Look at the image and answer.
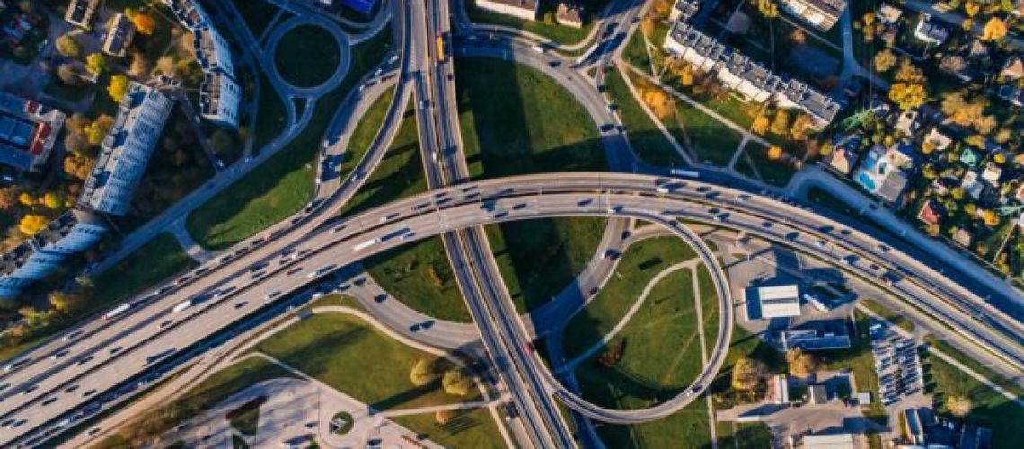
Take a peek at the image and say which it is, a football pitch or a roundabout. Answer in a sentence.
This aerial view contains a roundabout.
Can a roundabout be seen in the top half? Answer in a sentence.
Yes, in the top half there is a roundabout.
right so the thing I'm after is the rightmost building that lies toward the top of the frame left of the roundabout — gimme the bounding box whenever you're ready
[171,0,240,127]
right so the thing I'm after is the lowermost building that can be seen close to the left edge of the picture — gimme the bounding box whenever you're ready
[0,208,107,295]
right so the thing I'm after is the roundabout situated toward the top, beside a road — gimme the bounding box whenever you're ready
[263,12,351,99]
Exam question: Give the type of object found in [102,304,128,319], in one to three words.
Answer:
vehicle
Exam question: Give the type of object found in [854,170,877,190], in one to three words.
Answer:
swimming pool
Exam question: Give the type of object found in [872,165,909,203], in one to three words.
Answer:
building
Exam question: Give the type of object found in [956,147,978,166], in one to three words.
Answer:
house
